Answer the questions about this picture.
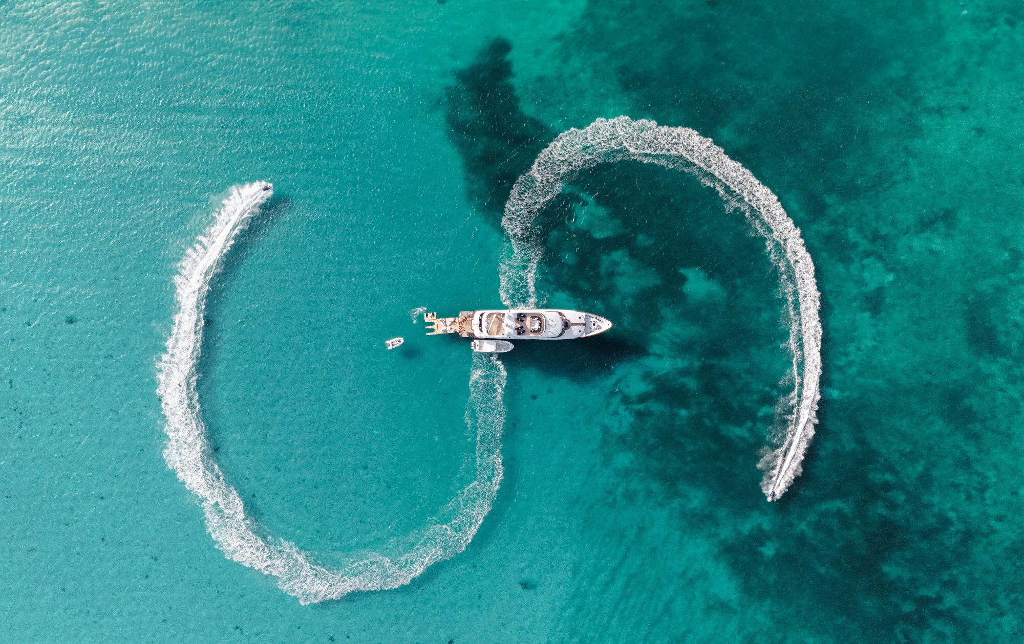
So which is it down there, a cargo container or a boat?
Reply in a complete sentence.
This aerial view contains a boat.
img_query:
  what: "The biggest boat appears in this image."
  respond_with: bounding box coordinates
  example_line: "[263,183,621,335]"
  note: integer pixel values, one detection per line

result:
[459,309,613,340]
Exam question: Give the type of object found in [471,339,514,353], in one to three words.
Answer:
boat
